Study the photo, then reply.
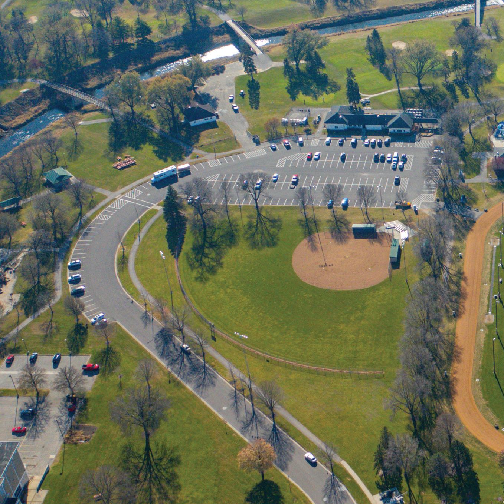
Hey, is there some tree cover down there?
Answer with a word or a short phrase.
Yes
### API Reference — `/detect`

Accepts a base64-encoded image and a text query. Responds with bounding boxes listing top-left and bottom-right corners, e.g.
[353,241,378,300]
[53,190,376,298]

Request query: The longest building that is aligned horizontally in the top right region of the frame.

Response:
[324,99,421,132]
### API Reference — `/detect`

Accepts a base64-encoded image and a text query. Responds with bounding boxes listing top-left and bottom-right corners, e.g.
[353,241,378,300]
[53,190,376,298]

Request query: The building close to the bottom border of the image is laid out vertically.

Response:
[0,442,29,504]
